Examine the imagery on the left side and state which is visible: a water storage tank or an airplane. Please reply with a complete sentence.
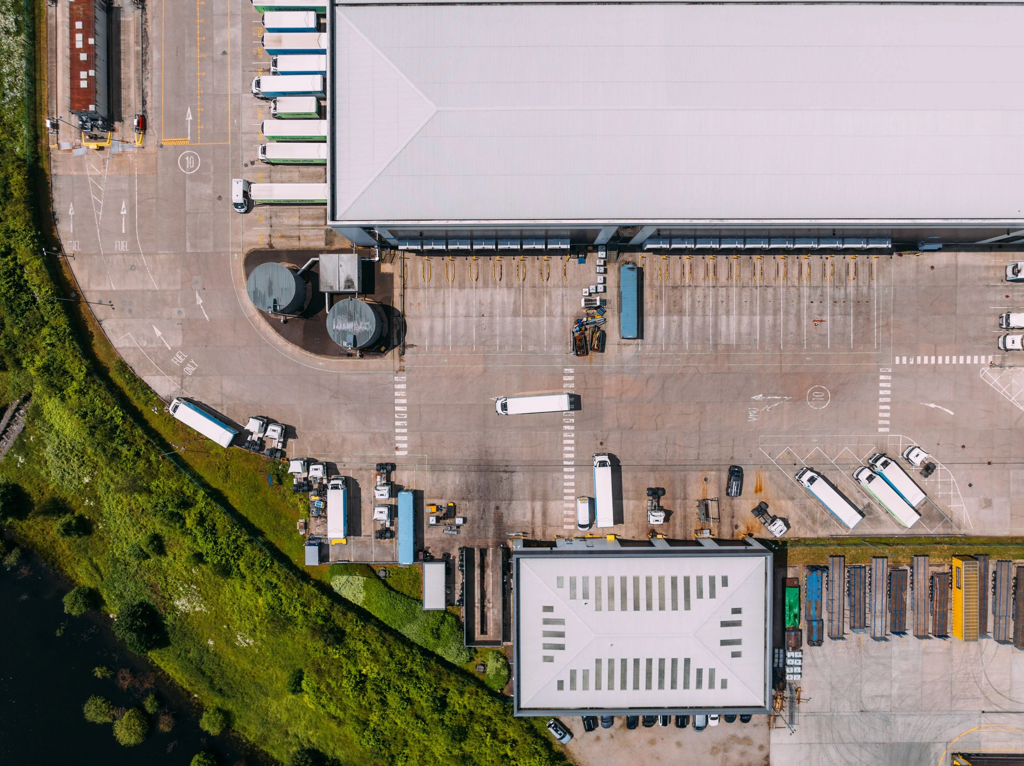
What appears on the left side is a water storage tank.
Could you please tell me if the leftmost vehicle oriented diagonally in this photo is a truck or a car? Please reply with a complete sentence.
The leftmost vehicle oriented diagonally can be classified as a truck.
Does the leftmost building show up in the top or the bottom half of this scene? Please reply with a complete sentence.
The top half of the photo is where the leftmost building is.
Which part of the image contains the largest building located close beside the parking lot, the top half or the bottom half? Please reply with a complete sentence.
The largest building located close beside the parking lot sits in the bottom half of the picture.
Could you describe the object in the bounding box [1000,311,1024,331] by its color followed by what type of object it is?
white vehicle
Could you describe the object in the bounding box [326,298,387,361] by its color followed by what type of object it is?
gray water tank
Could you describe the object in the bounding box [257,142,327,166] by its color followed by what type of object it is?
white truck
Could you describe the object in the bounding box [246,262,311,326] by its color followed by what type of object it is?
gray water tank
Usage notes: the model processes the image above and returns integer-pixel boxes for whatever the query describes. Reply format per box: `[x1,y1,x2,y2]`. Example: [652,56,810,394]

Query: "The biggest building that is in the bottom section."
[508,539,773,716]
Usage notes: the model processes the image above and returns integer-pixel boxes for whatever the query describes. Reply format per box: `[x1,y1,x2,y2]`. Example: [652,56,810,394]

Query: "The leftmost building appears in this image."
[65,0,112,120]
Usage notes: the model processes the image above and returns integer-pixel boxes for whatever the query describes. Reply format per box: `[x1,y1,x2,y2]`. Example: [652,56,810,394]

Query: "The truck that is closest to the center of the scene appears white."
[494,394,570,416]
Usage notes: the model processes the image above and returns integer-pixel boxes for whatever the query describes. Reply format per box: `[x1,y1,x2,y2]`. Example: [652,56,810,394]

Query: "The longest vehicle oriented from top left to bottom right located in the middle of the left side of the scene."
[167,395,243,448]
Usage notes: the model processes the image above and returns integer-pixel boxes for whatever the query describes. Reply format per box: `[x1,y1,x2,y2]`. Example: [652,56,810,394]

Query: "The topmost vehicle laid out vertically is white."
[231,176,248,215]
